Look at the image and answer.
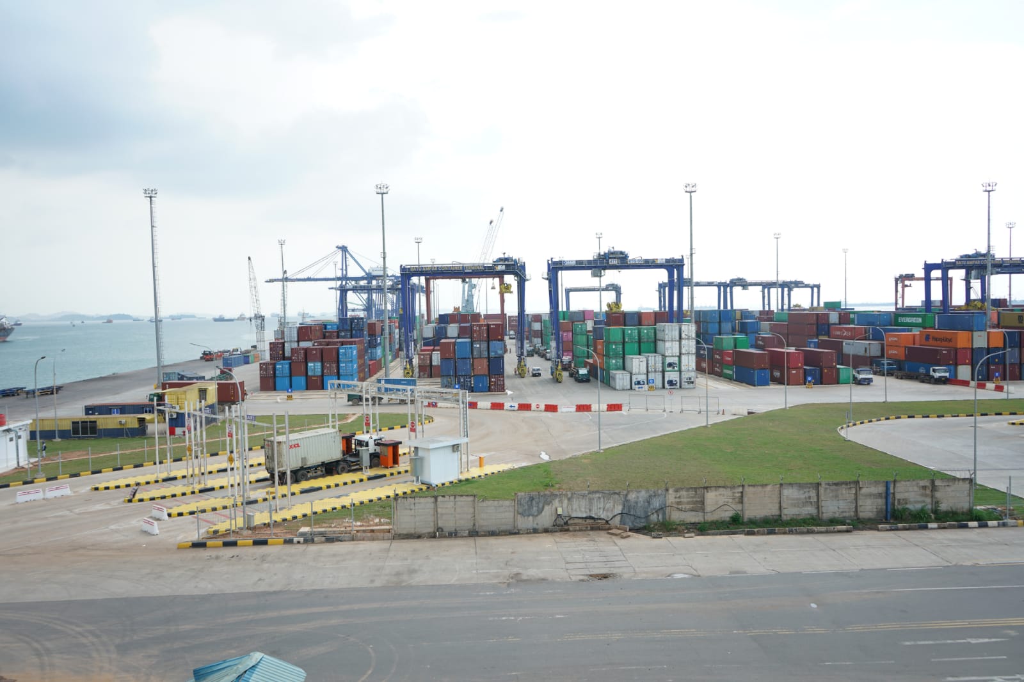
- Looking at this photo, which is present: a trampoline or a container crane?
container crane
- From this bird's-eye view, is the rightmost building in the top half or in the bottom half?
bottom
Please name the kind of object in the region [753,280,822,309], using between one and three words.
container crane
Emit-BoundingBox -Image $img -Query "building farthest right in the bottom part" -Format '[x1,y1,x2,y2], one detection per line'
[397,430,468,485]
